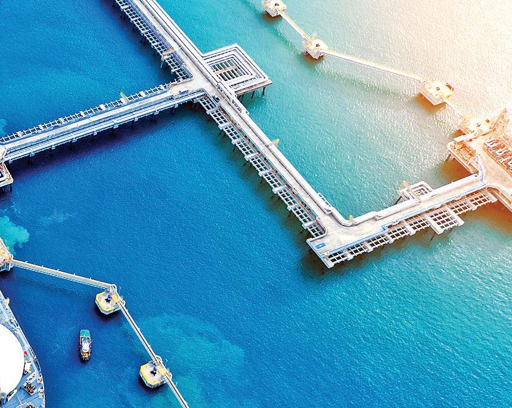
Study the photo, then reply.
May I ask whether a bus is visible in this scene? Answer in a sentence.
No, this view has no bus in it.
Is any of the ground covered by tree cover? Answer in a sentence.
No, the scene doesn't show any tree cover.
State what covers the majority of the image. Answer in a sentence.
What you mostly see from above here is water.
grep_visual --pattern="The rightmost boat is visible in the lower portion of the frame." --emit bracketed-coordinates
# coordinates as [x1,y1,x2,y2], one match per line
[78,329,90,362]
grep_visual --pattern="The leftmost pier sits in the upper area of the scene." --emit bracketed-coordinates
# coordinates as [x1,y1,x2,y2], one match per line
[1,81,210,167]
